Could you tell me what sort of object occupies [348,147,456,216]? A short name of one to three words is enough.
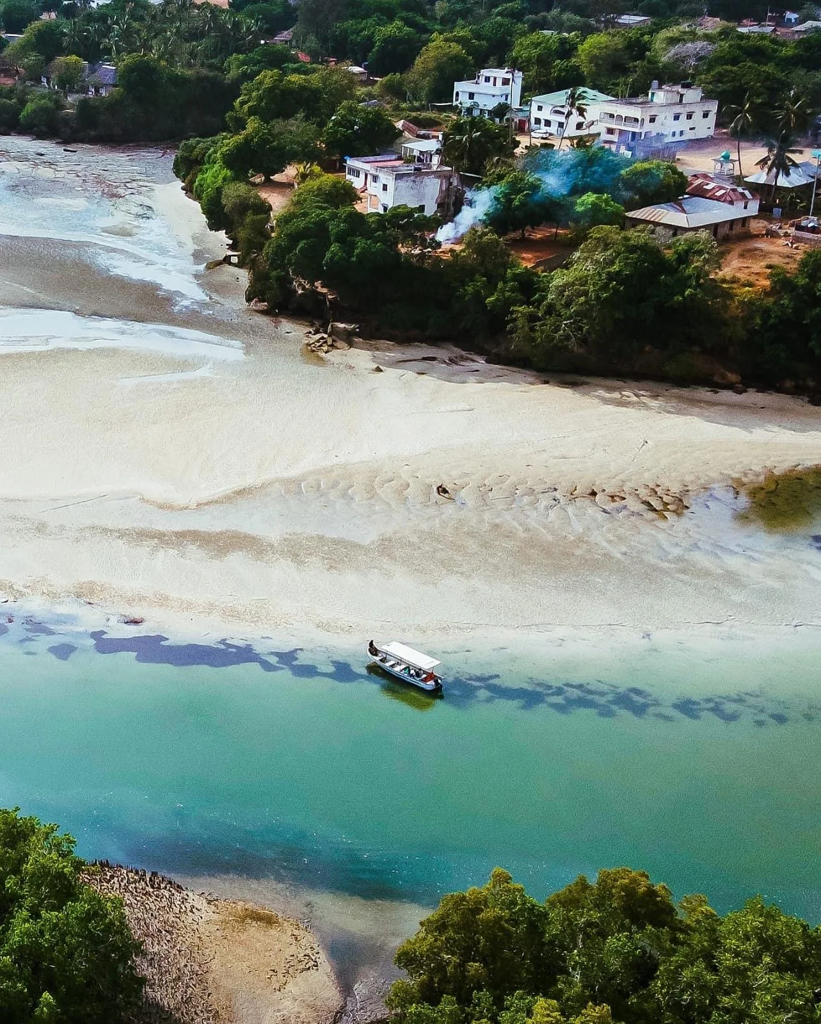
house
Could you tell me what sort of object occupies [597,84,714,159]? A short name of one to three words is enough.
house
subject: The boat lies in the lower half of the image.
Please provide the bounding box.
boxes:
[365,641,440,692]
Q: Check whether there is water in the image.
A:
Yes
